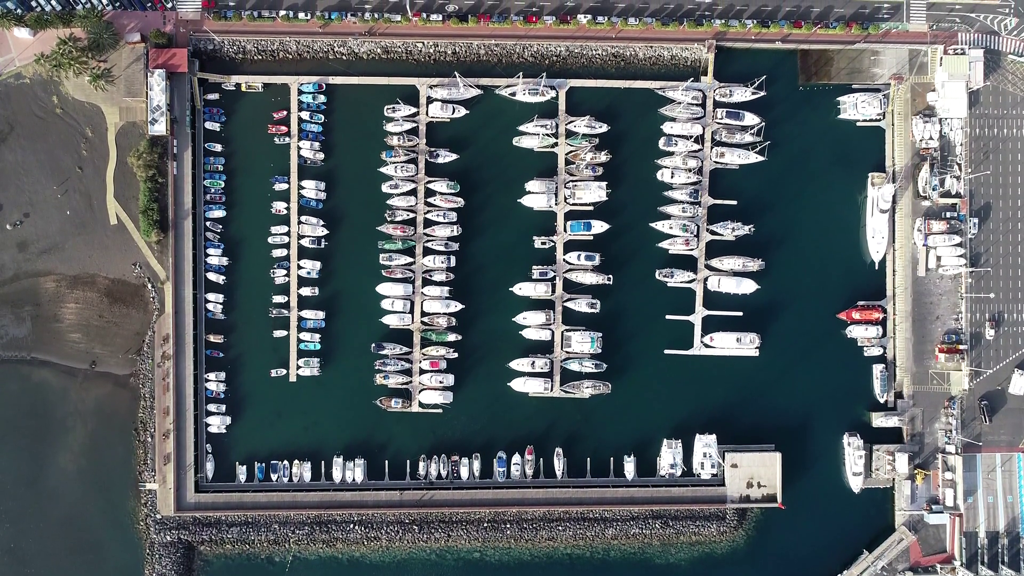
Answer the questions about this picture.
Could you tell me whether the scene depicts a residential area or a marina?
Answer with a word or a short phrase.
marina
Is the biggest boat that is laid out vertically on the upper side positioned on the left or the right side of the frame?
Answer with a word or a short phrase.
right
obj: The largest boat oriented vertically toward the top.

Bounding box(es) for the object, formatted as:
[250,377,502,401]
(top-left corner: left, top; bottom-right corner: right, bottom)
[867,168,902,269]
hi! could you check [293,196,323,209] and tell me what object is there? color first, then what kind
blue boat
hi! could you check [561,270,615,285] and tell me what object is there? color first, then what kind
white boat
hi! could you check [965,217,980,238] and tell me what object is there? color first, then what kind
white vehicle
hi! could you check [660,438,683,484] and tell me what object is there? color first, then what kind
white boat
